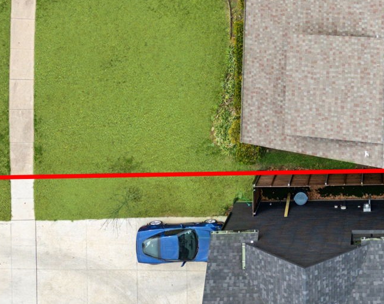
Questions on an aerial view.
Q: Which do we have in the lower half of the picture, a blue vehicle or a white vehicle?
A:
blue vehicle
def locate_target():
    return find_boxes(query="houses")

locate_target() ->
[207,197,384,304]
[239,0,384,170]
